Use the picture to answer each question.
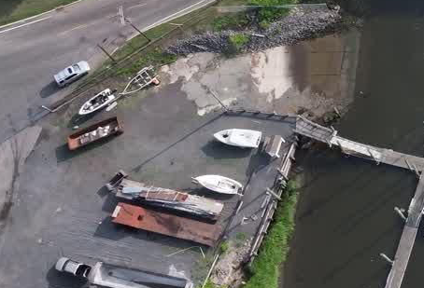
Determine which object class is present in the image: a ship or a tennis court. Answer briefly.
ship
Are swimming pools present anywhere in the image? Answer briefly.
No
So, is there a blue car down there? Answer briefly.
No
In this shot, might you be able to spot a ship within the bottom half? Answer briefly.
Yes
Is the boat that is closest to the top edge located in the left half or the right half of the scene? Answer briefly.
left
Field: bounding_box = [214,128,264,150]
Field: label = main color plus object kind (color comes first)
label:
white boat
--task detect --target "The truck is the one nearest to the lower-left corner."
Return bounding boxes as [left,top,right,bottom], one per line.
[49,259,90,285]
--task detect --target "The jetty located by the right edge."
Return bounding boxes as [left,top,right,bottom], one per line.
[290,113,424,288]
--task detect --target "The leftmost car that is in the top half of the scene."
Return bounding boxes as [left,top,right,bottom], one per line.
[50,62,89,89]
